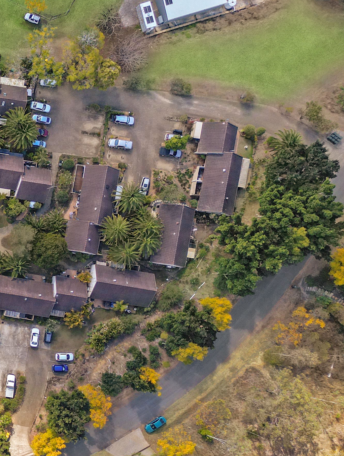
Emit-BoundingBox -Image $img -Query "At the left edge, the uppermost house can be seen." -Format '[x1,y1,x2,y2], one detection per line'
[0,77,30,125]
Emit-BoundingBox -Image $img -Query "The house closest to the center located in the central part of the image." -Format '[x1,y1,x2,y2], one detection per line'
[147,204,202,268]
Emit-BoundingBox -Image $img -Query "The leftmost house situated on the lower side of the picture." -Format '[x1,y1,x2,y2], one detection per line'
[0,275,59,320]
